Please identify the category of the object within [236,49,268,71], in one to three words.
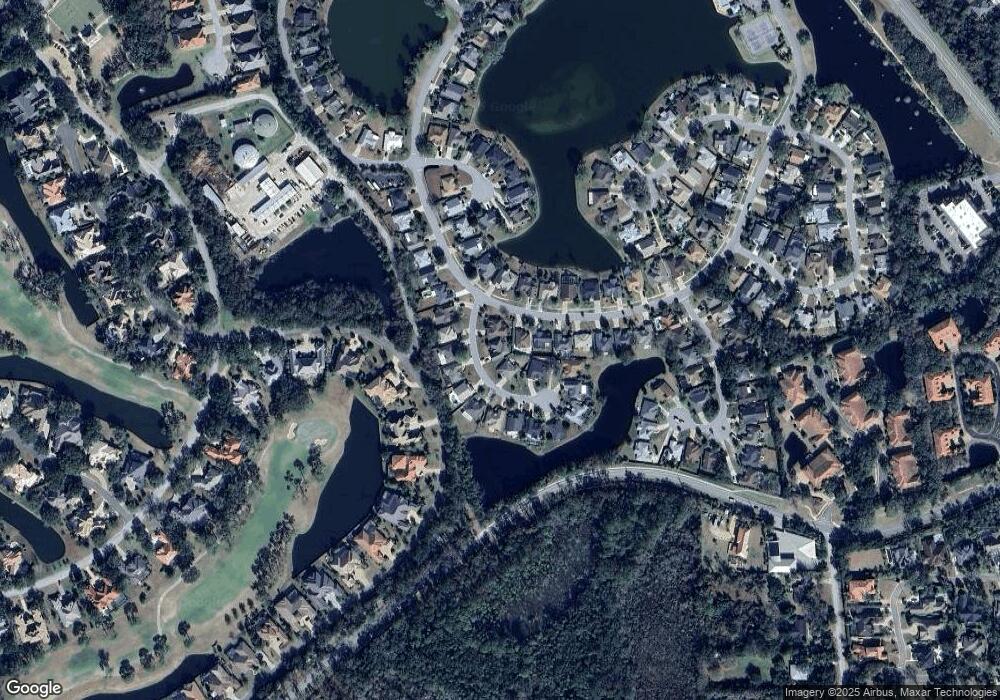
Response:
house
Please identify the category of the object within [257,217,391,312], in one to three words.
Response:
pond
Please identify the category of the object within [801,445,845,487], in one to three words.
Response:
building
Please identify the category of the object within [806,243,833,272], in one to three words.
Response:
house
